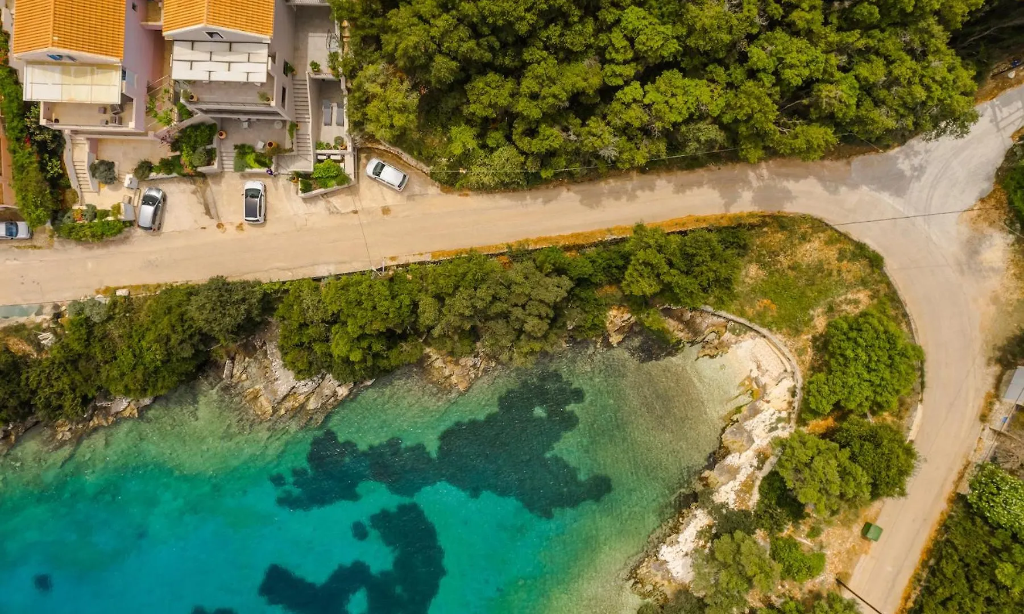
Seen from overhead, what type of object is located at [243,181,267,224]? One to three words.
car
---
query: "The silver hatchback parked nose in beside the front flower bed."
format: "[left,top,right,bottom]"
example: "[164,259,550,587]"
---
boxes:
[138,188,166,231]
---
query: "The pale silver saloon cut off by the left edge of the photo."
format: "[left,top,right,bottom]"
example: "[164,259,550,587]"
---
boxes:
[0,218,33,241]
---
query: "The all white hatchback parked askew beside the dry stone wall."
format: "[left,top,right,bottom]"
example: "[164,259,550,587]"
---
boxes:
[367,160,409,191]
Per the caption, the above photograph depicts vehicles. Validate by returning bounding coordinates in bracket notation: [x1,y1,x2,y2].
[243,181,267,224]
[0,218,33,241]
[367,160,409,191]
[138,188,166,231]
